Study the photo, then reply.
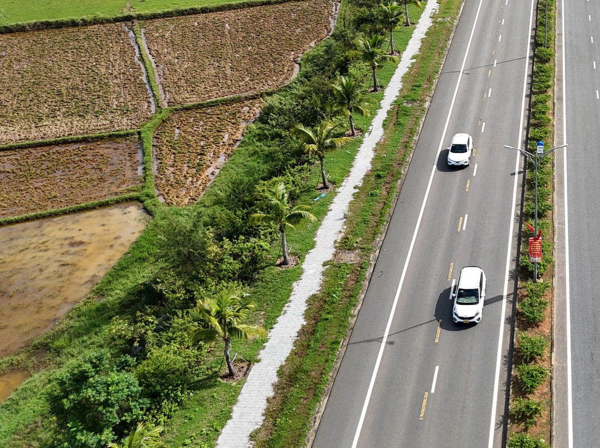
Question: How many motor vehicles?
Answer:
2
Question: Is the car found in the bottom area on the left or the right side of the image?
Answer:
right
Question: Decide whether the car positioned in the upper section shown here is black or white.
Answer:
white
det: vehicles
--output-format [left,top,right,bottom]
[446,133,474,167]
[450,267,486,325]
